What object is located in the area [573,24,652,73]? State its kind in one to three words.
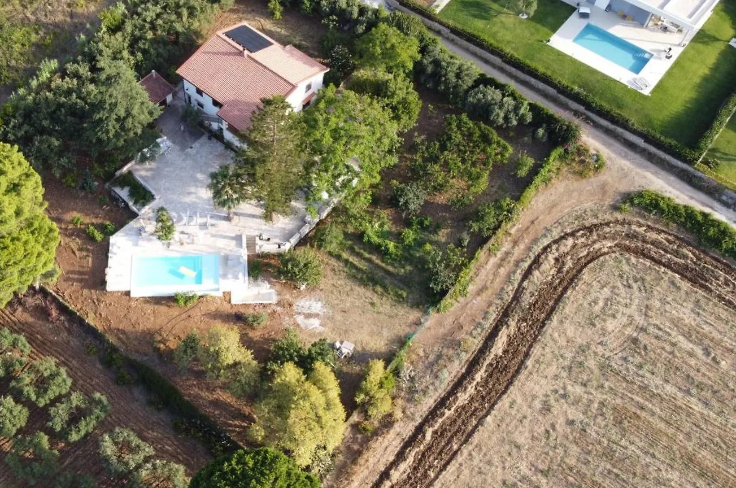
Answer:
swimming pool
